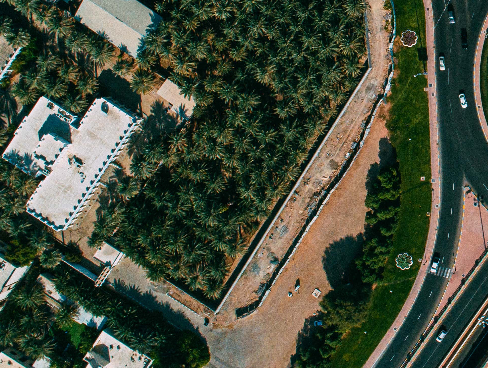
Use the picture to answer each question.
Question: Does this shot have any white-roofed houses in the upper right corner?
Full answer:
No, looking in the upper right corner, there is no white-roofed house.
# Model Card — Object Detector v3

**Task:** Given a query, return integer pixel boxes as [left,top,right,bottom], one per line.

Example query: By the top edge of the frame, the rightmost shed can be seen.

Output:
[77,0,169,56]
